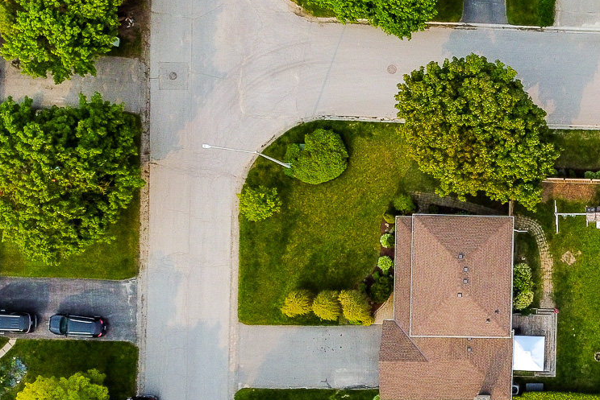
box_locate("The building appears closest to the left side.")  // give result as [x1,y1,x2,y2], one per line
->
[379,214,530,400]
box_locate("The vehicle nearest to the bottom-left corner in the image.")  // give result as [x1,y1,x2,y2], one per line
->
[0,312,38,335]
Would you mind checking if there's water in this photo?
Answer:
No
